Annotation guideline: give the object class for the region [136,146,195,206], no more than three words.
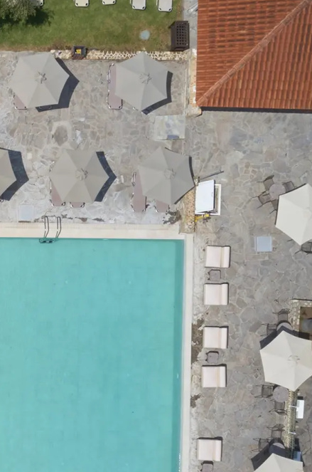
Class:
umbrella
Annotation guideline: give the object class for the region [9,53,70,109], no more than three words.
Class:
umbrella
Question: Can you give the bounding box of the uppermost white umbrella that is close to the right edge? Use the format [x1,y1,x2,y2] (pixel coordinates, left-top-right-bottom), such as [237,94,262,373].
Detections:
[273,185,312,246]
